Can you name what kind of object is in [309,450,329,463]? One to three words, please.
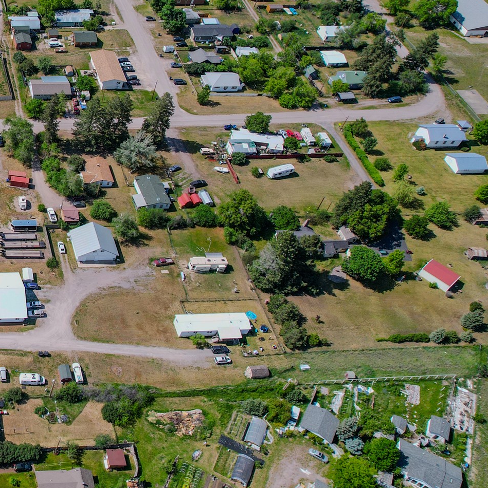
vehicle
